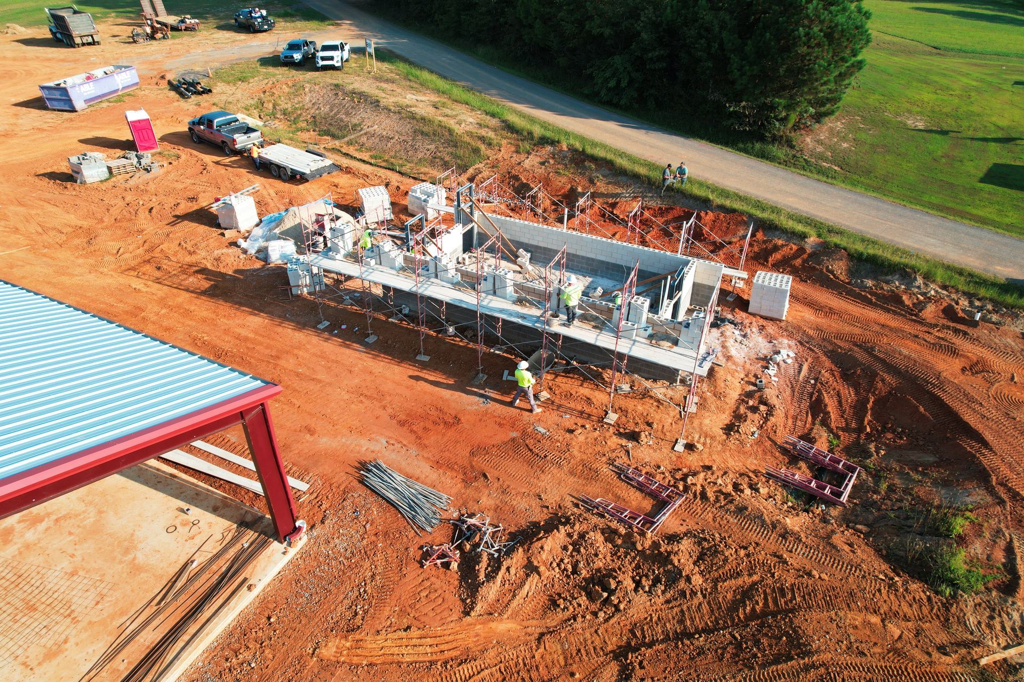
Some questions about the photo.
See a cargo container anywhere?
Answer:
Yes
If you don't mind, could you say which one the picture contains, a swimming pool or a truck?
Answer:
truck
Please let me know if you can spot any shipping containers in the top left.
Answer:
Yes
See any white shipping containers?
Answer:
Yes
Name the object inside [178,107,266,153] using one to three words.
truck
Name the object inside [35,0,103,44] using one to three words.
truck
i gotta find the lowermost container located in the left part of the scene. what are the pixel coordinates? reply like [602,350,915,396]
[37,63,138,112]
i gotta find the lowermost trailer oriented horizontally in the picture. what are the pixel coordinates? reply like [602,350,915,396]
[244,142,353,184]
